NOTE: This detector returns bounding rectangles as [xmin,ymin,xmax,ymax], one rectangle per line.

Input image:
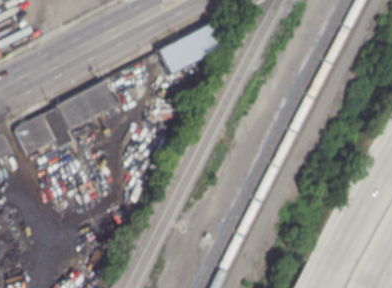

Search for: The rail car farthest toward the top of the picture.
[344,0,366,30]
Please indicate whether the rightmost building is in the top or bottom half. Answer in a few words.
top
